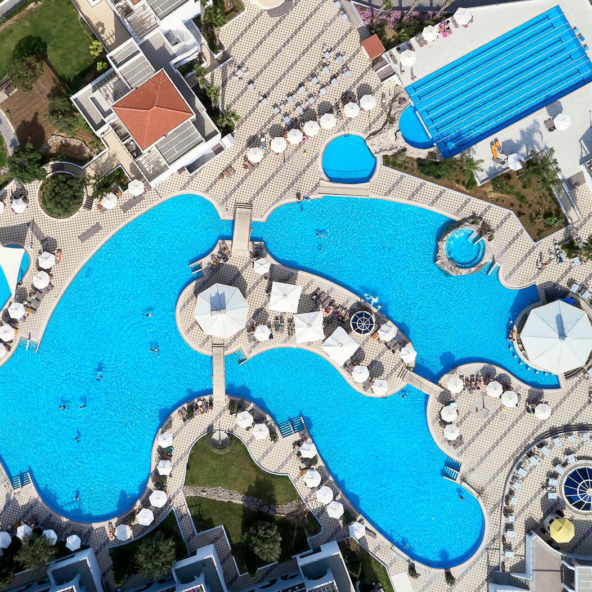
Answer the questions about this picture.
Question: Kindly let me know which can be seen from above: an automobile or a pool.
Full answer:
Looking from above, you can make out a pool.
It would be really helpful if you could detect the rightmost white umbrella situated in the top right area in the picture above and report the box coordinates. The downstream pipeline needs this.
[554,113,573,131]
